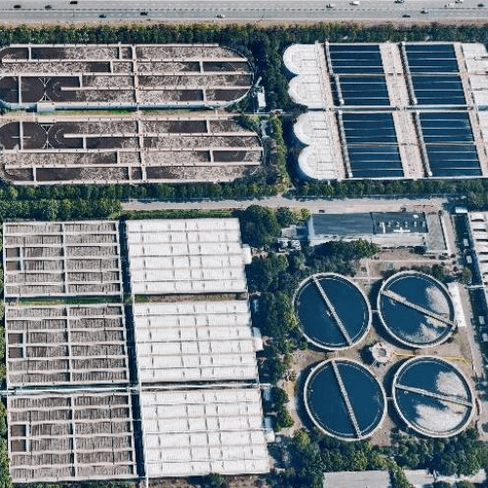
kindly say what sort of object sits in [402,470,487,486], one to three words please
shed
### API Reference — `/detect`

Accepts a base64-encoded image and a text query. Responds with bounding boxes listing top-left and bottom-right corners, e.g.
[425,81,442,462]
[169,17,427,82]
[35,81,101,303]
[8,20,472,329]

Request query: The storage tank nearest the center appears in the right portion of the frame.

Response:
[291,272,373,352]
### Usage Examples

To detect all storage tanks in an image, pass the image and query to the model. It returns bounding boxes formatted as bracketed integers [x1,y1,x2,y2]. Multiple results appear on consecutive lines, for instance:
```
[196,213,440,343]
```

[302,359,386,443]
[374,271,456,350]
[390,355,476,440]
[291,272,373,352]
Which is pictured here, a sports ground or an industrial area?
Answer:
industrial area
